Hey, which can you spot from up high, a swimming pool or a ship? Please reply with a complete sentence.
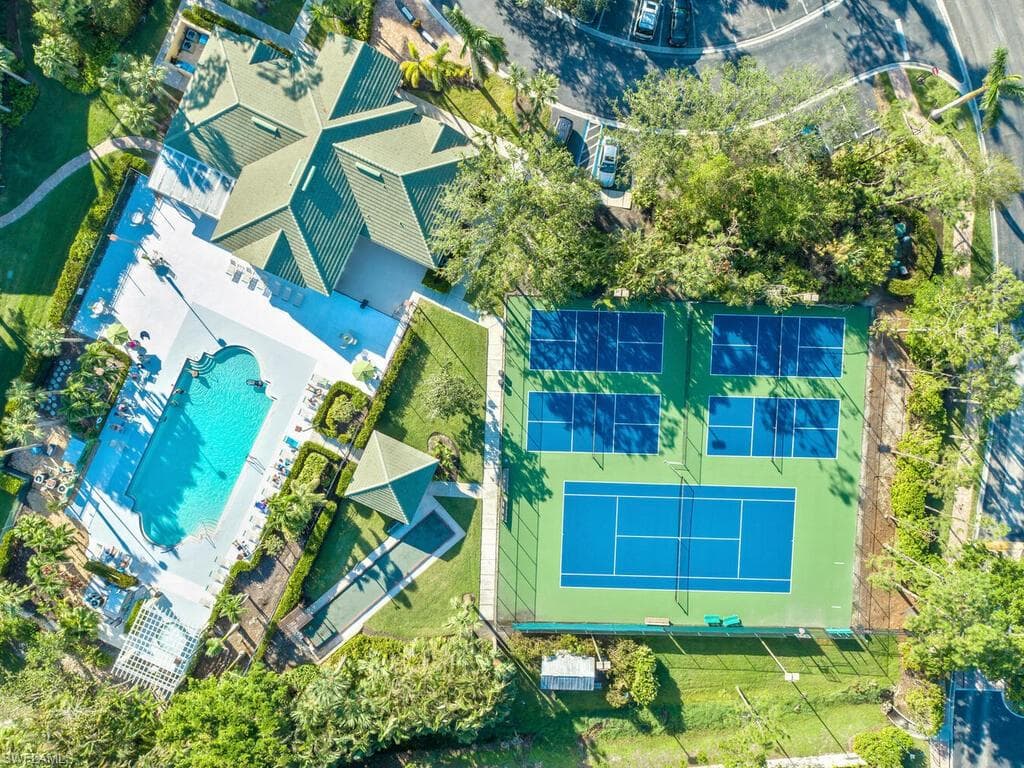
This aerial view contains a swimming pool.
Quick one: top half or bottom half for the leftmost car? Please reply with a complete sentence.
The leftmost car sits in the top half of the picture.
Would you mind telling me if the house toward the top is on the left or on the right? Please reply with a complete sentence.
You can find the house toward the top on the left side of the picture.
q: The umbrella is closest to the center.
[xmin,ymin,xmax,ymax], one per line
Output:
[353,358,378,383]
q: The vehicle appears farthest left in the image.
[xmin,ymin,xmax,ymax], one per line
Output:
[552,105,577,153]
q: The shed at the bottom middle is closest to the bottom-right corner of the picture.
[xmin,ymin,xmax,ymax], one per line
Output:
[541,650,595,690]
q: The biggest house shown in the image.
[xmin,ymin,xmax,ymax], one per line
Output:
[164,26,480,295]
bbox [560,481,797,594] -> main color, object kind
blue tennis court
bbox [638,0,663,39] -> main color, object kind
blue car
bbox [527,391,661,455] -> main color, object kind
blue sports court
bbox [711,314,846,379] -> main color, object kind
blue sports court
